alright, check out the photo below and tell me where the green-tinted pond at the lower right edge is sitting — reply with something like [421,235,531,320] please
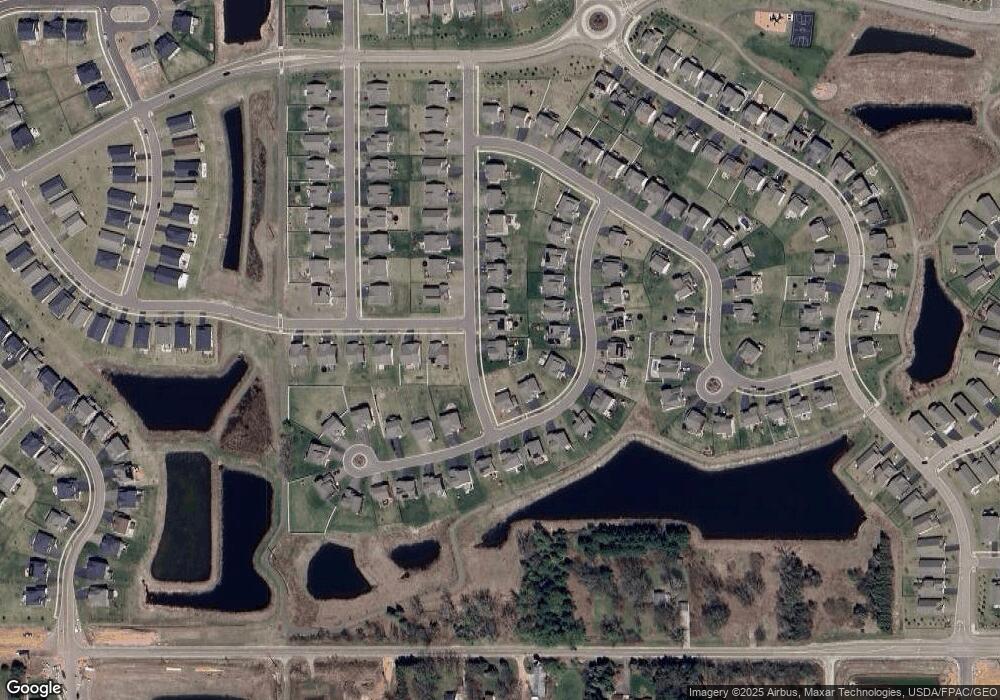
[849,671,944,700]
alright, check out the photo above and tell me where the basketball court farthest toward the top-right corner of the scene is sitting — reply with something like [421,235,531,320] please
[791,12,815,47]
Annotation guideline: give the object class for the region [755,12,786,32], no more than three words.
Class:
playground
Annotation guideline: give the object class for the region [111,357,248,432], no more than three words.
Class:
pond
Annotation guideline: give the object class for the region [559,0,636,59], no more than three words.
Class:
roundabout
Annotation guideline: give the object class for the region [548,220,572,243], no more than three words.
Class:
house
